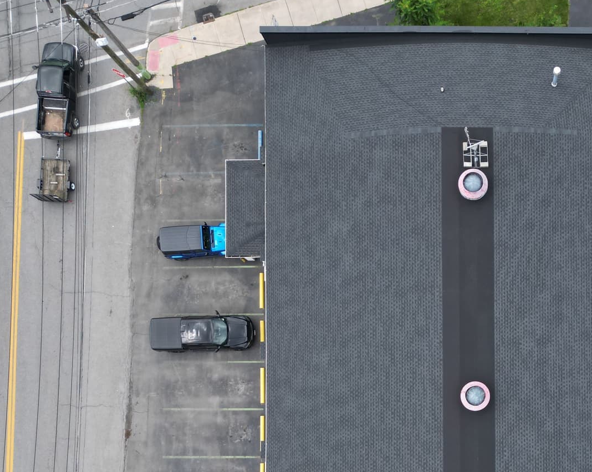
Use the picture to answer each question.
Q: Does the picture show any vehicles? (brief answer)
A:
Yes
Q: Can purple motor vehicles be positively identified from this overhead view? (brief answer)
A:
No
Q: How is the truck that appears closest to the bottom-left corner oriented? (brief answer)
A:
from left to right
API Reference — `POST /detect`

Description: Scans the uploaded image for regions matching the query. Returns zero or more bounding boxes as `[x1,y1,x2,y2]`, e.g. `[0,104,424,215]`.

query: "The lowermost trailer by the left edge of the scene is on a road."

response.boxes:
[27,141,78,204]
